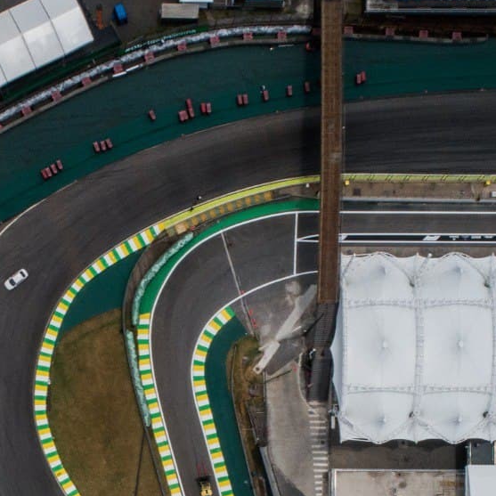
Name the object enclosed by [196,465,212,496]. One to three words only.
work vehicle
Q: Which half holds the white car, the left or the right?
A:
left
